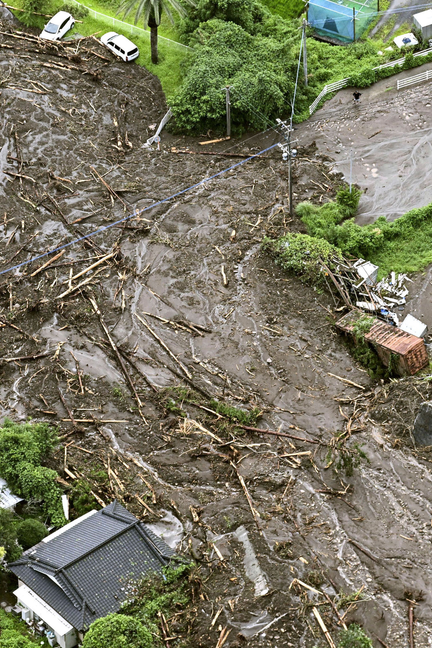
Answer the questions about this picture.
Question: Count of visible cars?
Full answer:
Looking from above, you can make out 2 cars.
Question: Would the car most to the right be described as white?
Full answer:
Yes, white is the color of the car most to the right.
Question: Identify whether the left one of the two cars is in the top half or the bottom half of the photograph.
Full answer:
The top half of the photo is where the left one of the two cars is.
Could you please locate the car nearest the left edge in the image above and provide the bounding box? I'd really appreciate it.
[40,9,75,42]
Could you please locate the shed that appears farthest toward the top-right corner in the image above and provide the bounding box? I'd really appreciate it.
[411,9,432,40]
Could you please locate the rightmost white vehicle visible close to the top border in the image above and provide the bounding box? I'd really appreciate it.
[100,32,141,64]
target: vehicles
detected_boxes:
[100,32,141,64]
[40,9,75,42]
